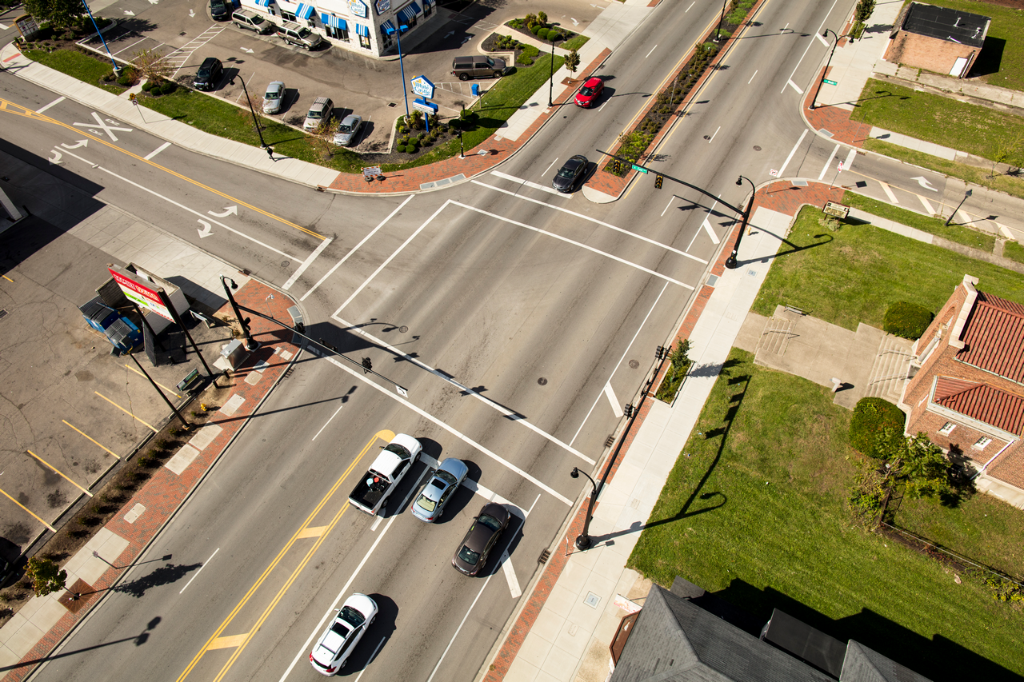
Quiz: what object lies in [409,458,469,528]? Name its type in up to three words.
car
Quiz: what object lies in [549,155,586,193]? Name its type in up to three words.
car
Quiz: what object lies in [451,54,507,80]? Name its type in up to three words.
truck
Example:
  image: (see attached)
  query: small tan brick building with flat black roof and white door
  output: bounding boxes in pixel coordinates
[885,7,987,77]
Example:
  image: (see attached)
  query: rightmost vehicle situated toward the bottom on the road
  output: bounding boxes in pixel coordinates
[450,501,512,582]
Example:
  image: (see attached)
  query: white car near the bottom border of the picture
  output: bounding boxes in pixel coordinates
[305,589,381,682]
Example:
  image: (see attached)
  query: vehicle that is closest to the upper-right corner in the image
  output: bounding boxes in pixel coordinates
[574,72,604,105]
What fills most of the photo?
paved ground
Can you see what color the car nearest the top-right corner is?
red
